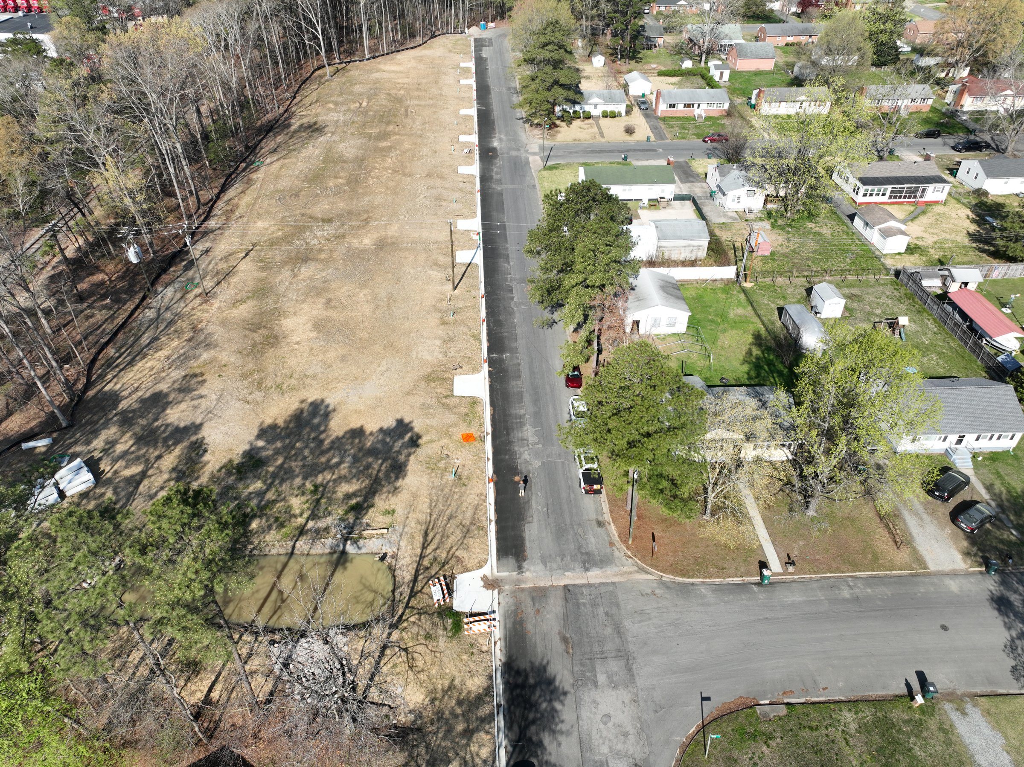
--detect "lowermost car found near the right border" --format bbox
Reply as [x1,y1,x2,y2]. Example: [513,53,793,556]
[958,493,1001,536]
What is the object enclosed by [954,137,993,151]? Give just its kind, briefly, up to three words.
vehicle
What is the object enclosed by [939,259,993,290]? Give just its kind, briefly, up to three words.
shed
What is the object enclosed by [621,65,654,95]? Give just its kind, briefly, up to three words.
building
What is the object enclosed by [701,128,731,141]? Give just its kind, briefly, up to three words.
vehicle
